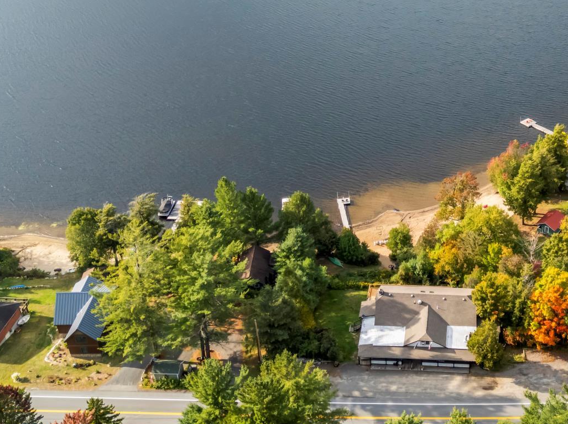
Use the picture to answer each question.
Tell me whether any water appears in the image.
Yes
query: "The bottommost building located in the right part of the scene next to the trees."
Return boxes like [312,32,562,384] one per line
[345,283,477,375]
